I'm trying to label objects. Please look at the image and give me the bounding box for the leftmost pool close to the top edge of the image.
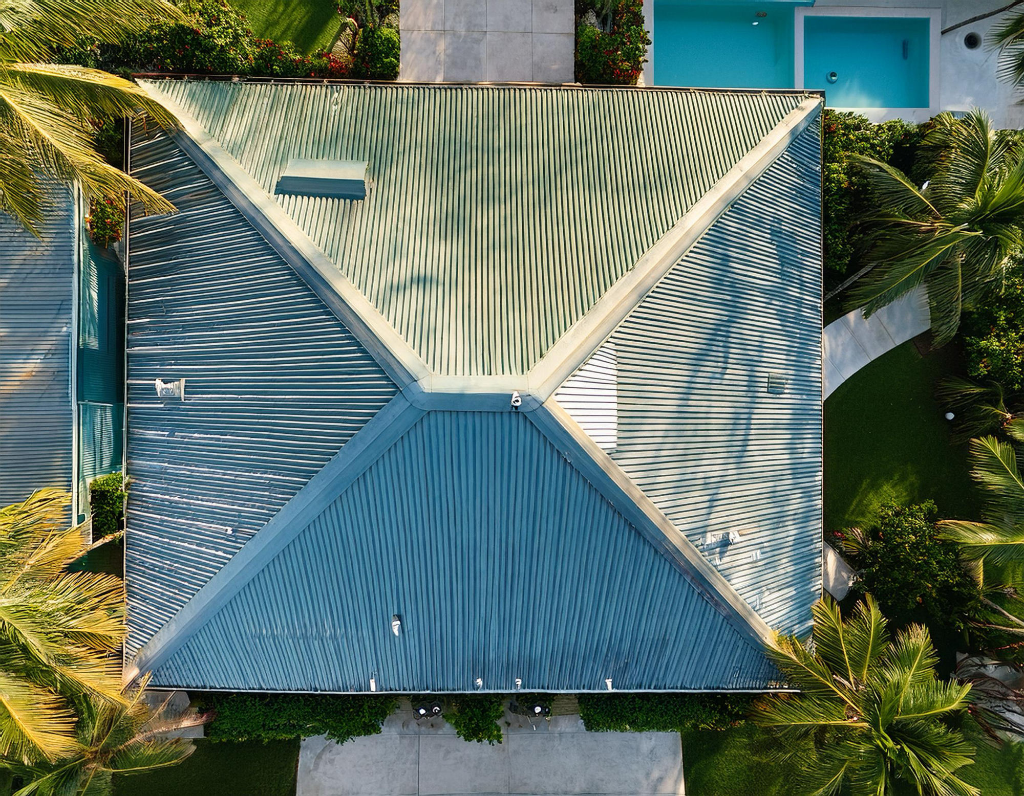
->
[646,0,800,88]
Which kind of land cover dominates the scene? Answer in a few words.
buildings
